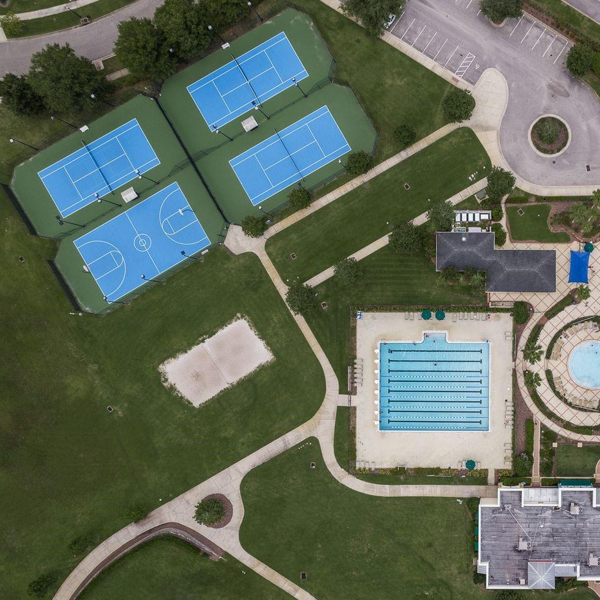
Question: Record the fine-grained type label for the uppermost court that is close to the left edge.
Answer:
tennis court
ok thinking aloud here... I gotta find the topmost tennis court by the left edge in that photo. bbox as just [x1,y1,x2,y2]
[10,95,187,239]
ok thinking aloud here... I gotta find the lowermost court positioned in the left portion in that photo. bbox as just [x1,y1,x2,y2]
[162,316,272,405]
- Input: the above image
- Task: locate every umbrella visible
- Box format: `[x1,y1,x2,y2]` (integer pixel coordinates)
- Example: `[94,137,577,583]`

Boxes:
[422,310,432,320]
[435,311,445,320]
[583,243,593,252]
[465,460,476,470]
